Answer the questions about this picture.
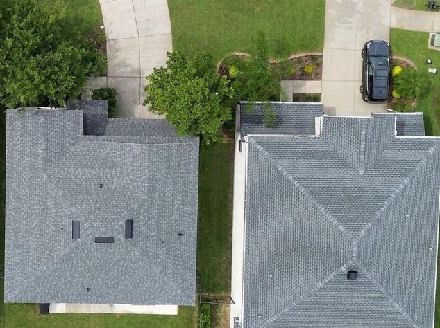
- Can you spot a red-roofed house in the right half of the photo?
No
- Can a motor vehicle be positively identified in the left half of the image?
No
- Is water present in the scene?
No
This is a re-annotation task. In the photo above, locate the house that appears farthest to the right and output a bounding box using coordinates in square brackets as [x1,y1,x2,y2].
[231,101,440,328]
